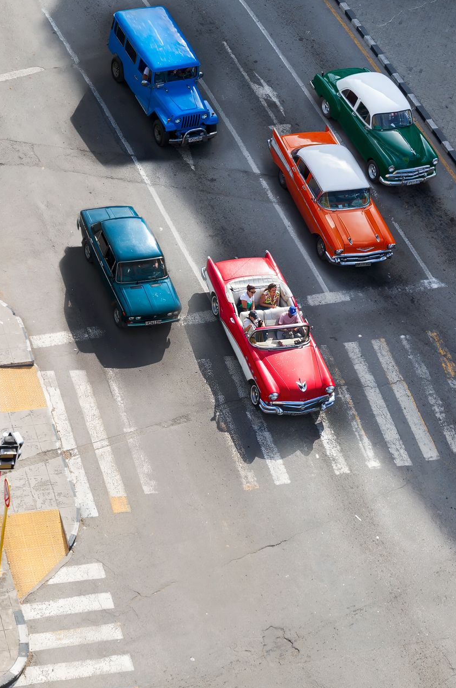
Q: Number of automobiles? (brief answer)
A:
5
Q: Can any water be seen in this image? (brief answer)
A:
No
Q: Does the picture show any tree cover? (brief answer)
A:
No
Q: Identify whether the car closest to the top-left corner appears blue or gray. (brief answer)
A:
blue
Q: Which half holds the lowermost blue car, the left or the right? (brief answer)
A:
left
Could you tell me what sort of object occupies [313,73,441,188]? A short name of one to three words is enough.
car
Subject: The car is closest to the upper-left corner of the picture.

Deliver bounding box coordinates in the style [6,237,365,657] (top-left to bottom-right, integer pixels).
[109,8,224,146]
